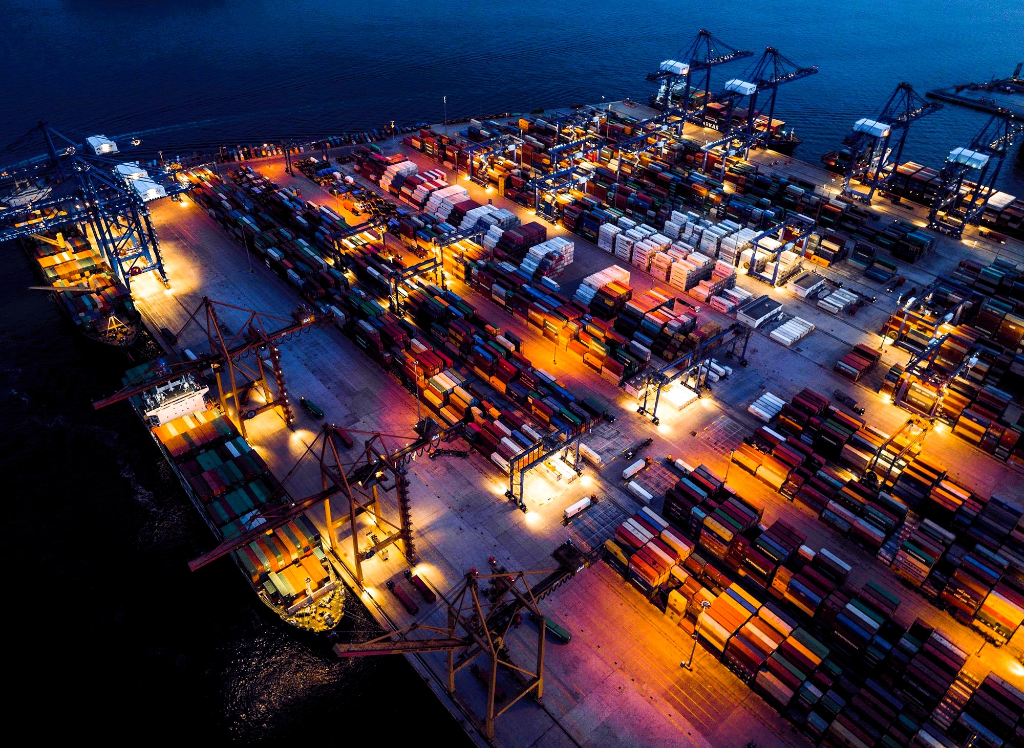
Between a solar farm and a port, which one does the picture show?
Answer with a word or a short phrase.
port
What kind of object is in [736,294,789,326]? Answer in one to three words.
building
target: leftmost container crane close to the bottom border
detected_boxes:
[326,525,624,748]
